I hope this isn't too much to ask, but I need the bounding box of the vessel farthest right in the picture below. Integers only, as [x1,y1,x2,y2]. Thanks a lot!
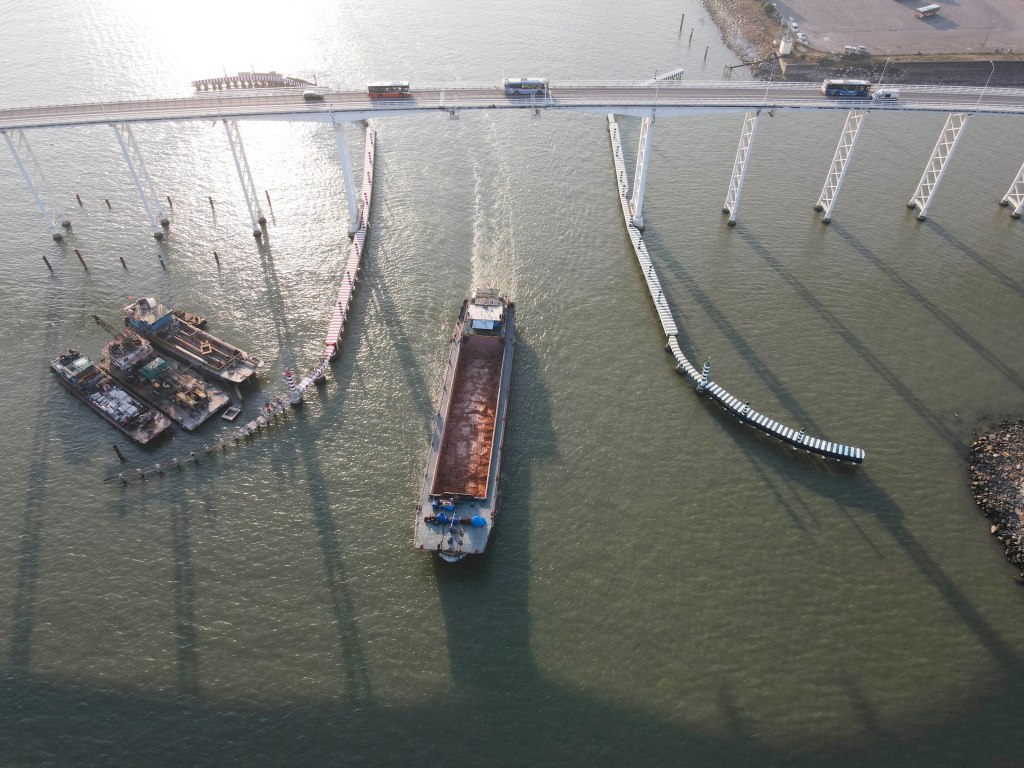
[414,287,515,553]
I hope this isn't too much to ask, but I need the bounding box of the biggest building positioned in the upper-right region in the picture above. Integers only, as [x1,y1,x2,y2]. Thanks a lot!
[780,13,799,56]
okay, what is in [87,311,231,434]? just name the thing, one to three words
ship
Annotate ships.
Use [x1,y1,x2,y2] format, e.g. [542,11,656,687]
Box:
[117,293,261,397]
[49,345,170,448]
[414,287,515,553]
[87,311,231,434]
